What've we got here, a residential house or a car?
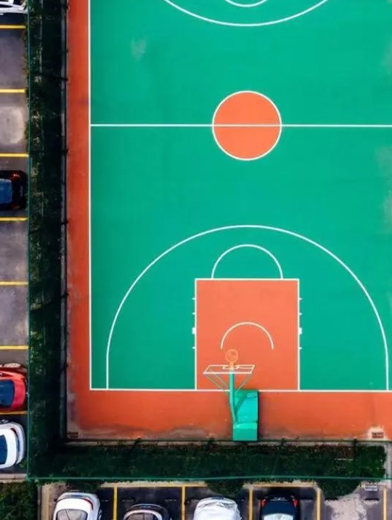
car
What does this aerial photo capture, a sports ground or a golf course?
sports ground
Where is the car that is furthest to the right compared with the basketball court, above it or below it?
below it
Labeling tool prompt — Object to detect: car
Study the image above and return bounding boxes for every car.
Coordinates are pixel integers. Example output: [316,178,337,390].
[196,484,244,520]
[121,496,168,520]
[50,480,102,520]
[0,358,33,408]
[0,416,30,467]
[0,168,31,211]
[258,481,301,520]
